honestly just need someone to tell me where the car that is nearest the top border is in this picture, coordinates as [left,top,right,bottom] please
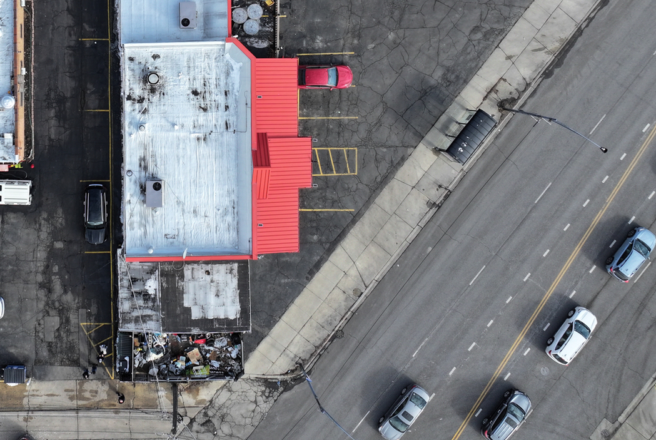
[299,63,353,92]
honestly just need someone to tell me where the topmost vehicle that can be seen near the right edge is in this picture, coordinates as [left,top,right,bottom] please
[606,228,654,282]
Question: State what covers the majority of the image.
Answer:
paved ground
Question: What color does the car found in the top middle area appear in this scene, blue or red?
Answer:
red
